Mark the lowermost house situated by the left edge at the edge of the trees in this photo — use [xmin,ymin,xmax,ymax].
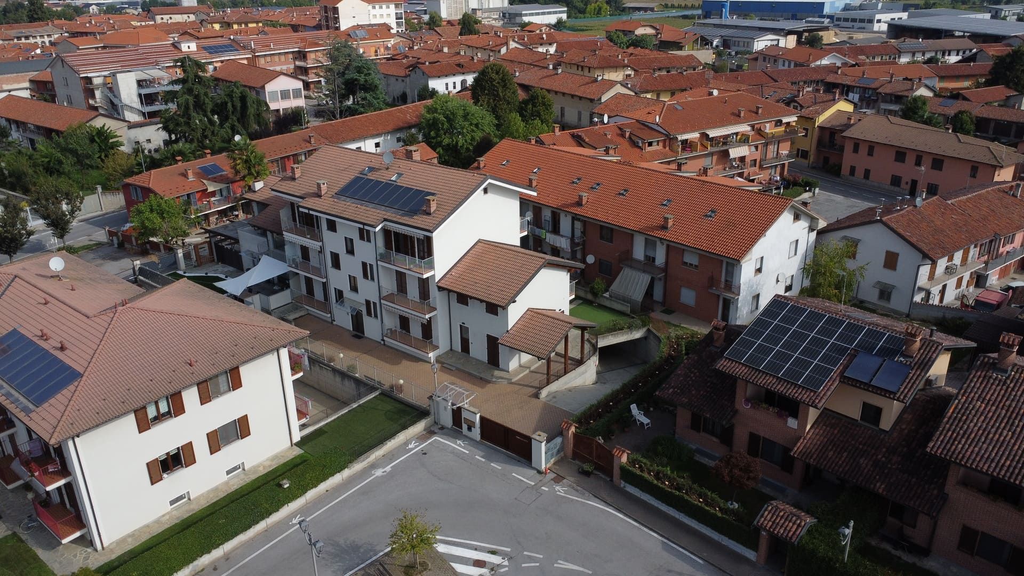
[0,233,313,551]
